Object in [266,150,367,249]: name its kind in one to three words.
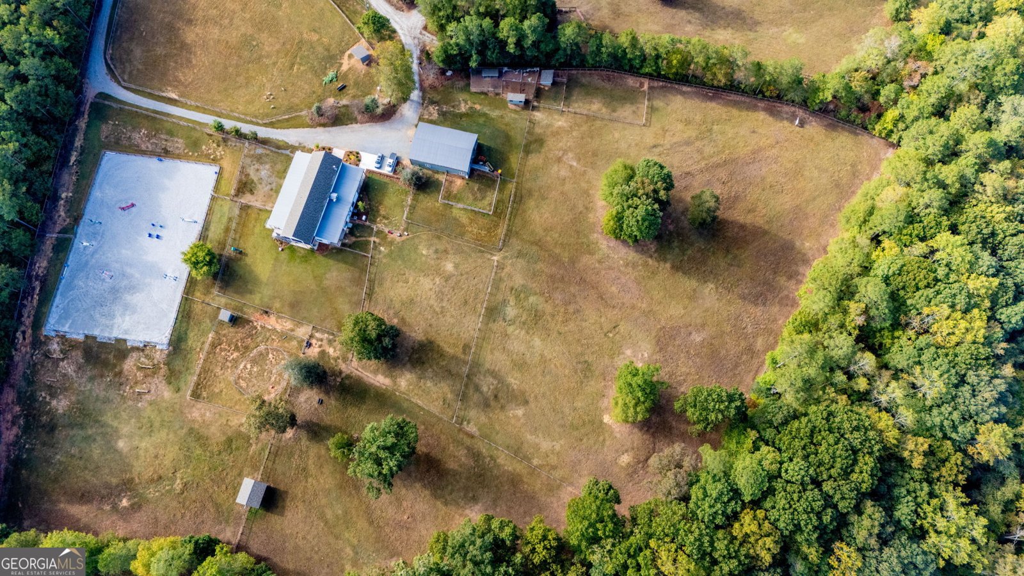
house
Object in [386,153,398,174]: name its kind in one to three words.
vehicle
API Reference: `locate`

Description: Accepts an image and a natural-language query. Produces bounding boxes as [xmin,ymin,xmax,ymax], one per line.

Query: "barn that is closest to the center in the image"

[409,122,478,177]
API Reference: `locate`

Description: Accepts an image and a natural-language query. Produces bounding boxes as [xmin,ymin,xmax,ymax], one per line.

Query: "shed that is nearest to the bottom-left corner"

[236,477,269,508]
